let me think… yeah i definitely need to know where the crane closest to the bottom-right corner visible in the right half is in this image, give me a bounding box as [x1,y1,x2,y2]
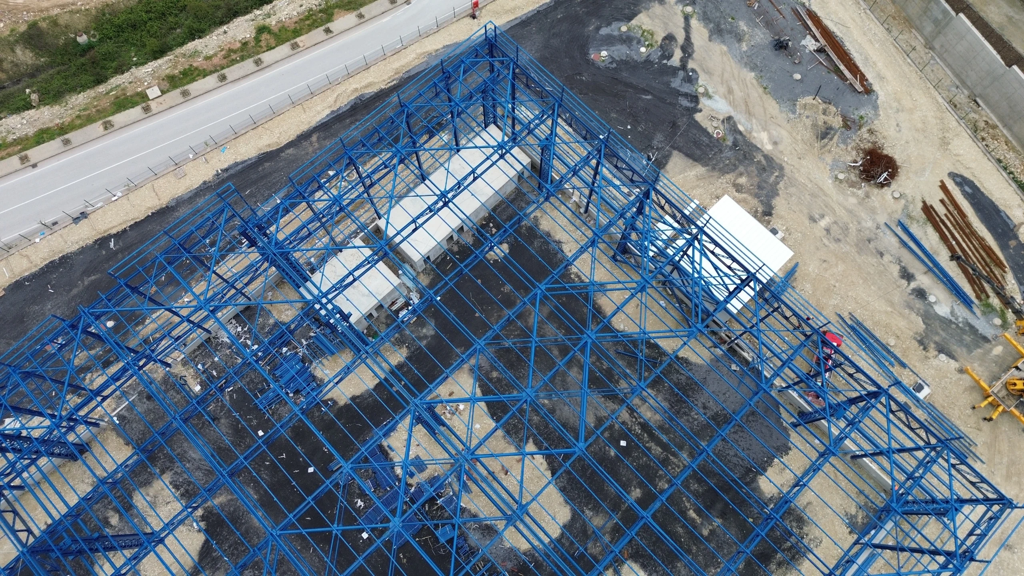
[960,333,1024,434]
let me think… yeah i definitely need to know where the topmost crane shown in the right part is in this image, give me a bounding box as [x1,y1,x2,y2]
[947,253,1024,357]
